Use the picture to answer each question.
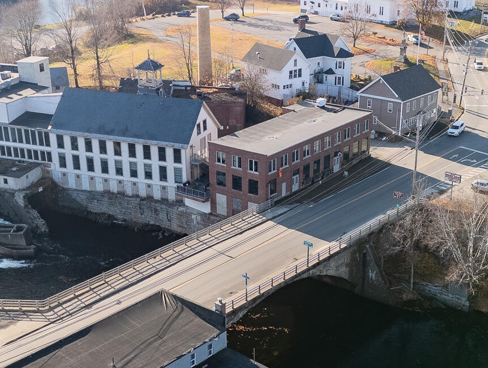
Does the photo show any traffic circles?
No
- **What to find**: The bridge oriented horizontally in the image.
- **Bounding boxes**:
[0,198,416,337]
